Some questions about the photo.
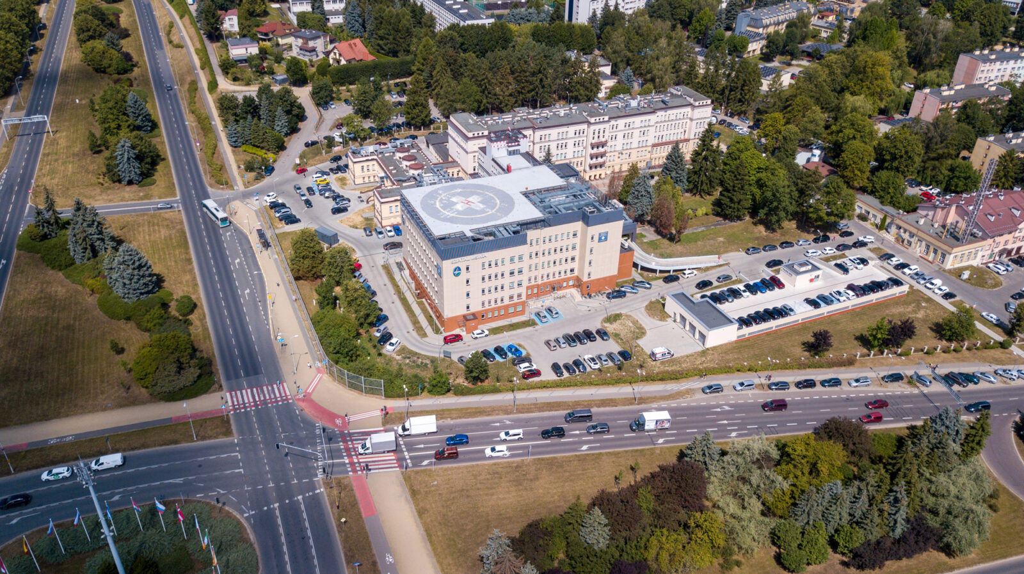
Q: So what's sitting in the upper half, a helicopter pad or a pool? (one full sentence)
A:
There is a helicopter pad in the upper half.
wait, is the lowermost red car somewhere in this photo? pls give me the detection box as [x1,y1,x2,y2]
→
[434,446,460,461]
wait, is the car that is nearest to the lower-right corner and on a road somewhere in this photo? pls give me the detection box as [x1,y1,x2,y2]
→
[964,400,991,413]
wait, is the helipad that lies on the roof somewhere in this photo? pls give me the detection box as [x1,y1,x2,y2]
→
[398,151,573,240]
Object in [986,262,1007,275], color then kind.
white vehicle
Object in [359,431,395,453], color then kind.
white truck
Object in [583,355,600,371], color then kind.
white car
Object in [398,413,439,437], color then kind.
white truck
